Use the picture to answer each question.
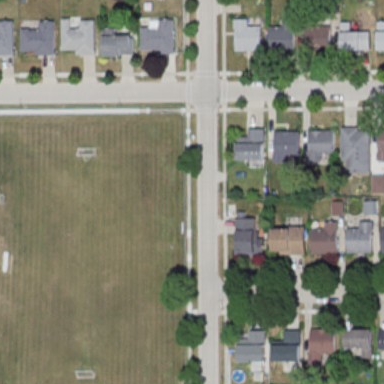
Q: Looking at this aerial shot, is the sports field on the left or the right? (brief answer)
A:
left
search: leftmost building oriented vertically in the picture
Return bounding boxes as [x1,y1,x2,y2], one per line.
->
[0,22,15,56]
